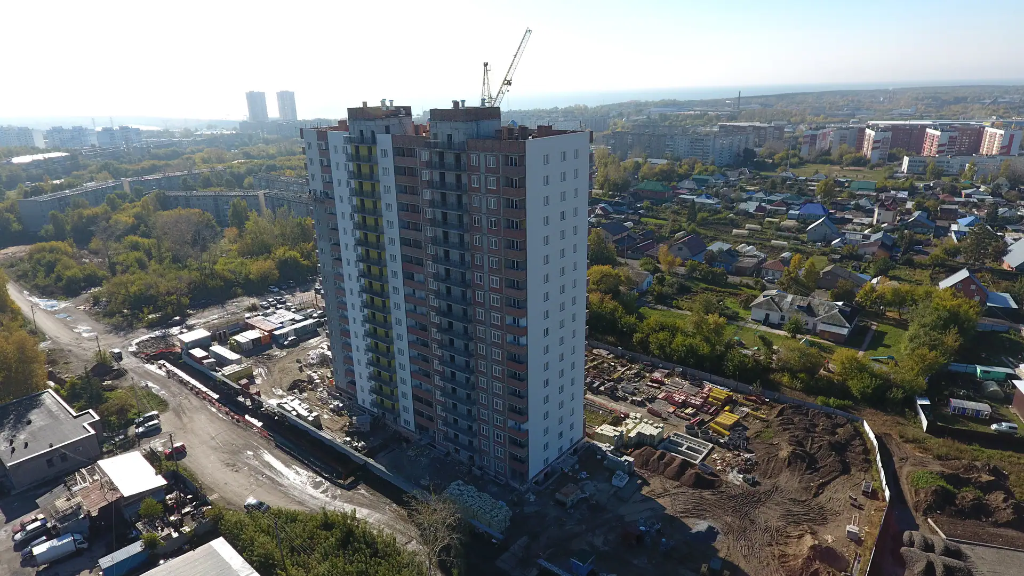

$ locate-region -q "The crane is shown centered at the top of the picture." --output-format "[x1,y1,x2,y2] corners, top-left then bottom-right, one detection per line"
[478,29,532,106]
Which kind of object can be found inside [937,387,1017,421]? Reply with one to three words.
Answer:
greenhouse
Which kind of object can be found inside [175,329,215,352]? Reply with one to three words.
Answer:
building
